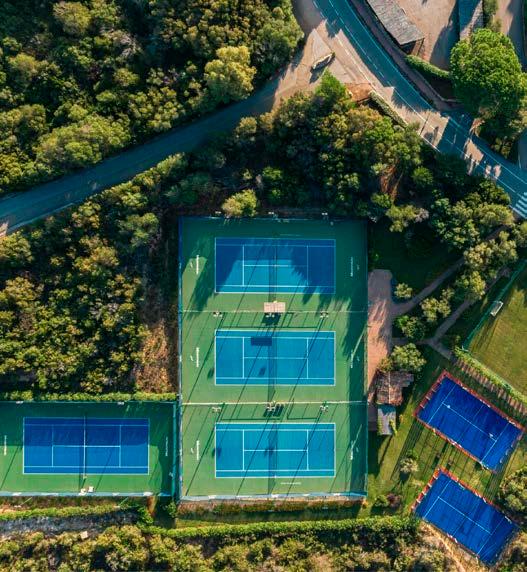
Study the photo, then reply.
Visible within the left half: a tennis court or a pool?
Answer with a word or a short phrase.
tennis court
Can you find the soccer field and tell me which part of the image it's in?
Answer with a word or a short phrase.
right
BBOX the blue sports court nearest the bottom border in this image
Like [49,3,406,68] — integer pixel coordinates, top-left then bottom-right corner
[412,469,526,572]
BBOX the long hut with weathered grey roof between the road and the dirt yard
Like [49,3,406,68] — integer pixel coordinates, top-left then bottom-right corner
[363,0,426,55]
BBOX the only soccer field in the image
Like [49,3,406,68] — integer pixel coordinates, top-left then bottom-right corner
[466,260,527,394]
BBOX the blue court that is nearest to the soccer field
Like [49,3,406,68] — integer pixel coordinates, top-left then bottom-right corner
[416,374,527,475]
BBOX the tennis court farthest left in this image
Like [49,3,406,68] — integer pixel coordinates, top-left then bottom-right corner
[0,406,177,488]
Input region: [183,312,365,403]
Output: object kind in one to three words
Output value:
tennis court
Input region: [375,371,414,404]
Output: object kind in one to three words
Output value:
house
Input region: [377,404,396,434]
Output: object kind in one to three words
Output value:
shed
